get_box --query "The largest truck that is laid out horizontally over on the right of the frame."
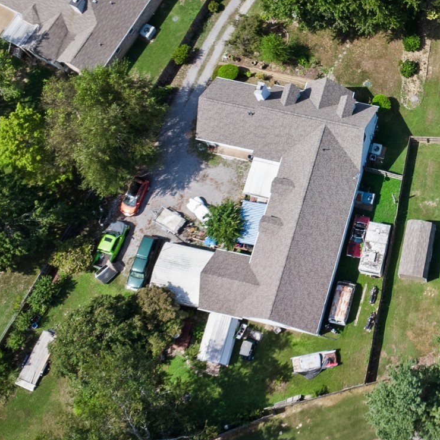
[289,347,344,376]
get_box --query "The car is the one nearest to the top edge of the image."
[122,180,152,215]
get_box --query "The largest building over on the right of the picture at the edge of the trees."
[195,77,379,338]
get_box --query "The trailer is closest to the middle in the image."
[155,202,190,237]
